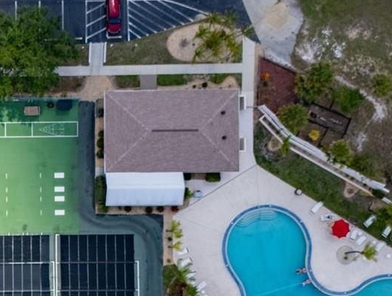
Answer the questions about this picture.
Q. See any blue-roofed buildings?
No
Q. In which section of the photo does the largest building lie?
center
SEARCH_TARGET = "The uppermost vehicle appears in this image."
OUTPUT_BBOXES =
[105,0,122,37]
